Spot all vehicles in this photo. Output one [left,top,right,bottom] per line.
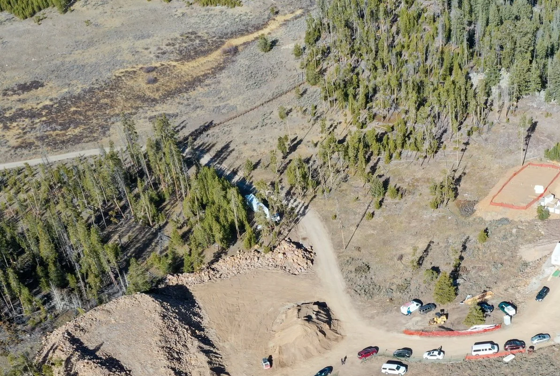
[476,297,496,312]
[530,335,552,345]
[536,284,551,299]
[504,342,527,352]
[427,311,449,324]
[357,345,379,359]
[418,301,437,314]
[381,365,409,376]
[400,297,424,314]
[311,365,333,376]
[423,351,444,361]
[472,344,499,357]
[393,348,412,358]
[496,298,519,316]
